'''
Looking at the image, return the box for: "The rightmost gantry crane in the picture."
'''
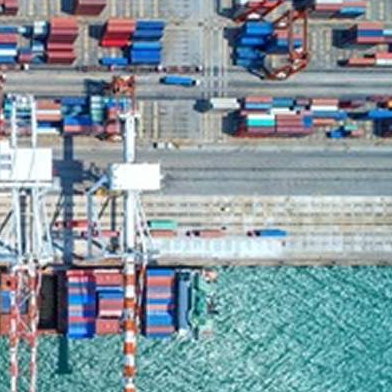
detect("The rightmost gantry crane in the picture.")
[265,4,313,79]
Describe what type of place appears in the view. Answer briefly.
port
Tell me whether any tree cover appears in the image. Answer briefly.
No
